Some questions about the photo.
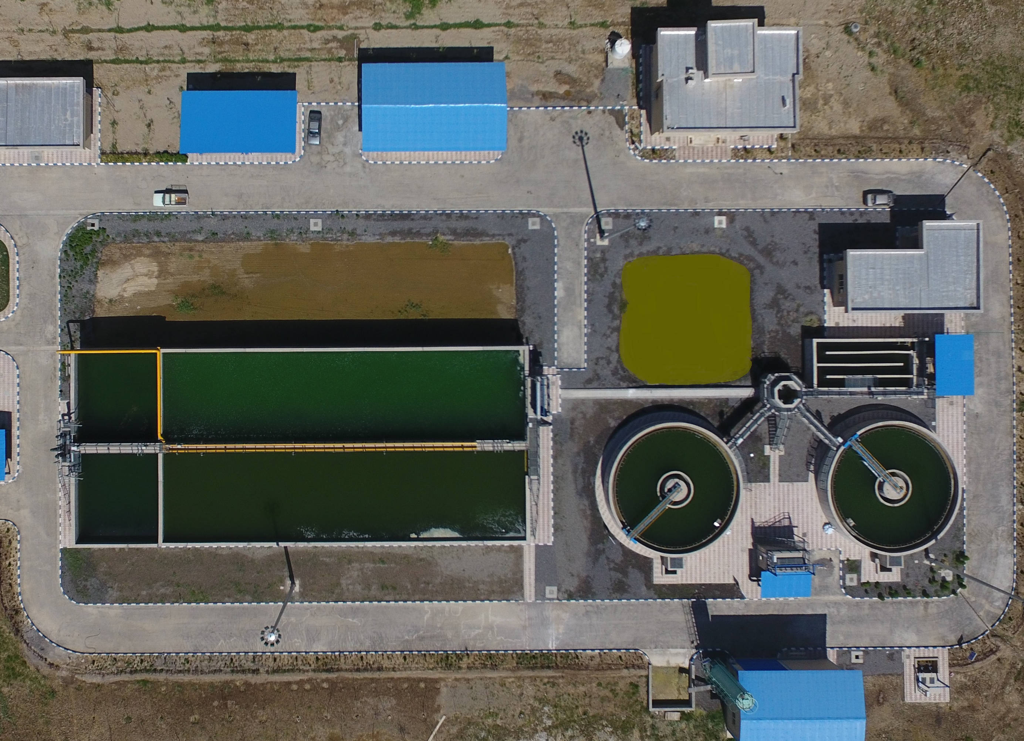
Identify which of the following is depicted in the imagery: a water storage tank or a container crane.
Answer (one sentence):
Visible in the photo is a water storage tank.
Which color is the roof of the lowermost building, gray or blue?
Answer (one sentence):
From above, the roof of the lowermost building appears blue.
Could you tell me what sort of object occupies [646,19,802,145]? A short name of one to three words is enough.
building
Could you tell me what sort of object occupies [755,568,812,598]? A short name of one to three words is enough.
shed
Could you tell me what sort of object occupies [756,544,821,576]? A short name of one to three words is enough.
building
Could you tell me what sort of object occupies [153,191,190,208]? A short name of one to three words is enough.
vehicle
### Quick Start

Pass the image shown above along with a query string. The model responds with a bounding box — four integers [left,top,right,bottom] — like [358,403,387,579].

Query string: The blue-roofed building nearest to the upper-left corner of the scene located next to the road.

[179,91,299,155]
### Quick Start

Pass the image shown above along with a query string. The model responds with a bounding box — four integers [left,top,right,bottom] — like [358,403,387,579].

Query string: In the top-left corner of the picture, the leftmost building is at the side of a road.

[0,77,94,155]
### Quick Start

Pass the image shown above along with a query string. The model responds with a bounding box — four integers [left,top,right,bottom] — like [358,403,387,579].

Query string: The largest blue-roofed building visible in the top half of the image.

[362,62,507,153]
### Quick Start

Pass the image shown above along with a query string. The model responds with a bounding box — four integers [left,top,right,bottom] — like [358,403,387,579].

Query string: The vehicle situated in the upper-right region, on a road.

[865,192,897,207]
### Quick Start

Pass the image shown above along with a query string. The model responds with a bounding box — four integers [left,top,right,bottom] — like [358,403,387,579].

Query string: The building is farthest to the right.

[831,220,983,313]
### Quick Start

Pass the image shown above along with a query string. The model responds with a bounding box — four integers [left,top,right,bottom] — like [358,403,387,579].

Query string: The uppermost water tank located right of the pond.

[804,338,929,389]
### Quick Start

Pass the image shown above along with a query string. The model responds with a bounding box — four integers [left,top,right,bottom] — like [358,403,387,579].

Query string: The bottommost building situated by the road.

[727,659,868,741]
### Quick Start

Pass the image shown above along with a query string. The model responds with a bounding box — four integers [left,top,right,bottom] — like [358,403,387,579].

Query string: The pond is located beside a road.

[620,253,752,385]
